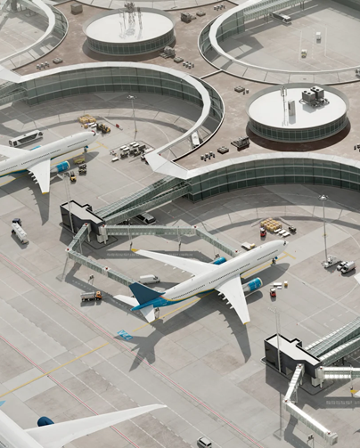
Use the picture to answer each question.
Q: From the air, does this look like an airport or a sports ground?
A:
airport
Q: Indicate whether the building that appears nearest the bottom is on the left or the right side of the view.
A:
right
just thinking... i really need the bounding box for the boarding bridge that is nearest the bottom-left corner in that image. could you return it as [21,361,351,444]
[63,223,157,292]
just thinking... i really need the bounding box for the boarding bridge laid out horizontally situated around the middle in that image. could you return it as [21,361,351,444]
[104,220,244,257]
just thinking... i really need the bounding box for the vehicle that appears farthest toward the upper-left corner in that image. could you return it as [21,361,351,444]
[9,126,43,144]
